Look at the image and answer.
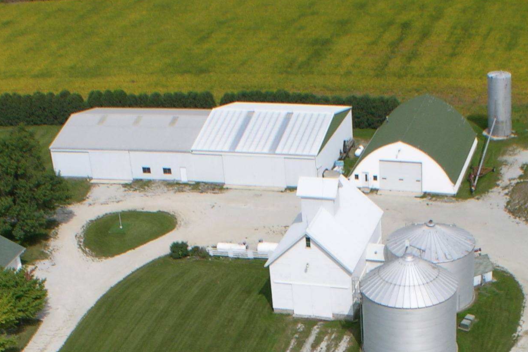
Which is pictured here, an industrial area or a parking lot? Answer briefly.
industrial area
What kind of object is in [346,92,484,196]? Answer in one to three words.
barn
